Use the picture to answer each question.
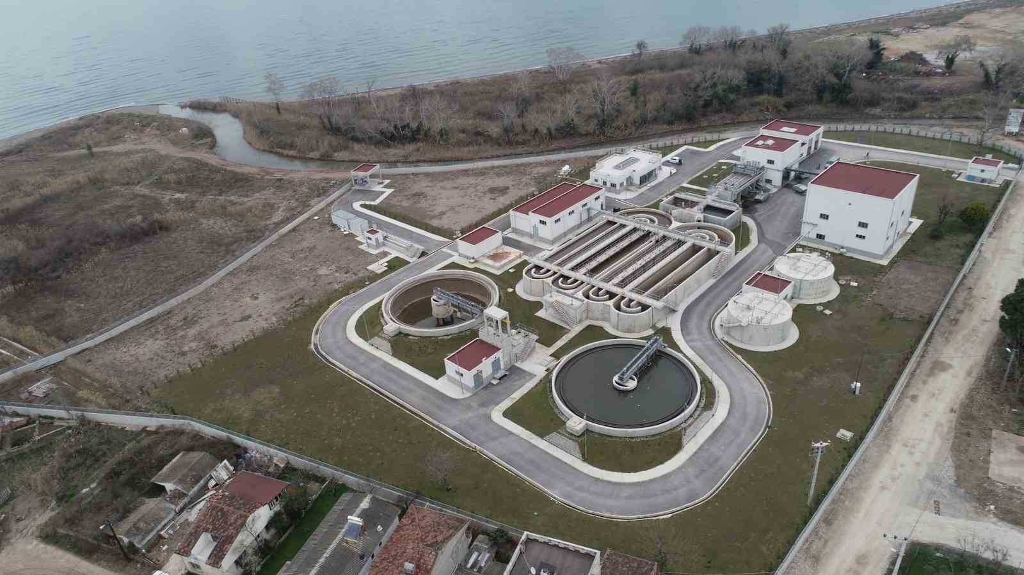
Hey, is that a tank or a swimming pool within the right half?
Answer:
tank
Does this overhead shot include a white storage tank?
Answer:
Yes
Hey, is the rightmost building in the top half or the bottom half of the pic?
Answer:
top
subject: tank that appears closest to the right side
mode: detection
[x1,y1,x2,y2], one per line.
[770,250,839,302]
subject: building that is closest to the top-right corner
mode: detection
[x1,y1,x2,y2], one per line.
[965,157,1003,180]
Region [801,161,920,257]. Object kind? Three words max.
building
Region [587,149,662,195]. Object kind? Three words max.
building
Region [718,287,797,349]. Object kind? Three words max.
storage tank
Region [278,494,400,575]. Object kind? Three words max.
house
